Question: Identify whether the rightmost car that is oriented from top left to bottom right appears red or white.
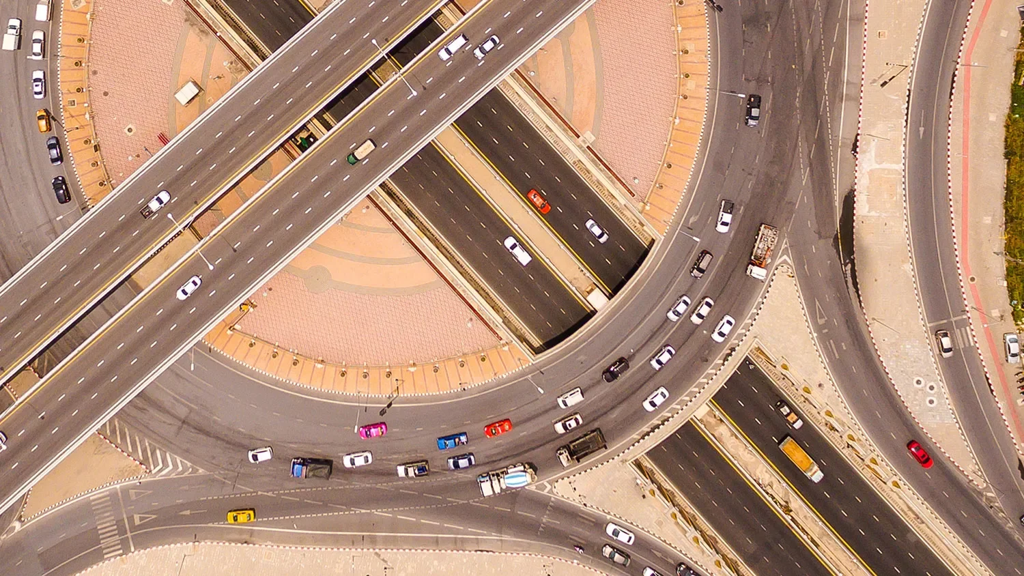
red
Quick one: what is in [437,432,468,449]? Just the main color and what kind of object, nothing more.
blue vehicle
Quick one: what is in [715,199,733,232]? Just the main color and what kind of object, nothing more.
white vehicle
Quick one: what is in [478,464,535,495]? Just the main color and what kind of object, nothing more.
white truck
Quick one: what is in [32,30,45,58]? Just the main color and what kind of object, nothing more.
white vehicle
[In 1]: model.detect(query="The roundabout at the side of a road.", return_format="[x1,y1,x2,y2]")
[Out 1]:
[57,0,711,397]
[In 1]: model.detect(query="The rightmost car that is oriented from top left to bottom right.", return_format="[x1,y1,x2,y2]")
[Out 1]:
[907,440,931,467]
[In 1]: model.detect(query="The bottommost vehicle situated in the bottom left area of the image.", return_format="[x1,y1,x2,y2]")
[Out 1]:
[227,508,255,523]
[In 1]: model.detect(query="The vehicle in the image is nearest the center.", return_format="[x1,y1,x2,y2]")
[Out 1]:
[504,236,531,265]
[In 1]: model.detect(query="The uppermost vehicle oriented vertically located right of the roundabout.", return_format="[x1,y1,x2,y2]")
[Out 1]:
[745,94,760,126]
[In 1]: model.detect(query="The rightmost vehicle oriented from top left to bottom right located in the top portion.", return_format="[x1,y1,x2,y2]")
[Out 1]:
[584,218,607,242]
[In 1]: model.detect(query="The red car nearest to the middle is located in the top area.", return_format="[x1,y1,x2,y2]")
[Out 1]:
[526,188,550,213]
